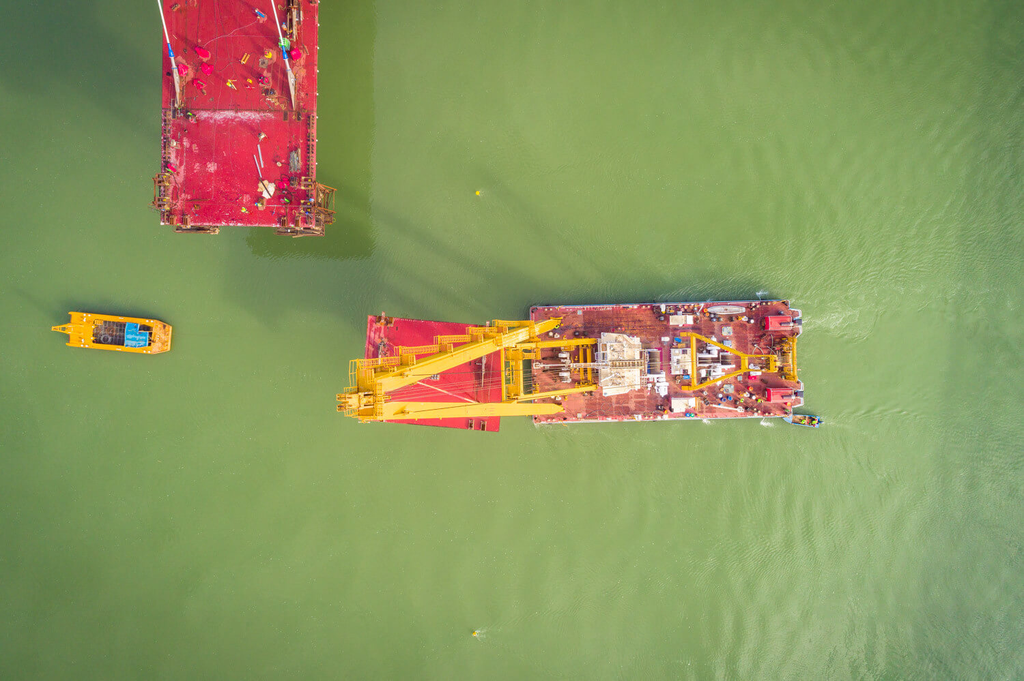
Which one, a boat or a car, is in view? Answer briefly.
boat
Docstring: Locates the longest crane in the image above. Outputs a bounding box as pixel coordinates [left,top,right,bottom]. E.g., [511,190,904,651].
[336,318,787,423]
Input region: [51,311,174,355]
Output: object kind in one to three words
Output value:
boat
